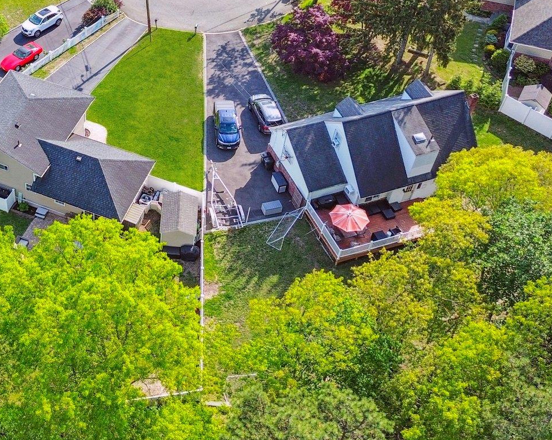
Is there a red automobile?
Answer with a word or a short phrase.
Yes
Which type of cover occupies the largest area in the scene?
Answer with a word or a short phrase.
trees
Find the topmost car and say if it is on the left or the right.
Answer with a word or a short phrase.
left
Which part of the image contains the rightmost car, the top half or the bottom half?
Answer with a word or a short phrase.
top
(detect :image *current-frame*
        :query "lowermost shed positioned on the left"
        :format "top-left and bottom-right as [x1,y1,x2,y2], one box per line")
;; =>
[160,191,197,244]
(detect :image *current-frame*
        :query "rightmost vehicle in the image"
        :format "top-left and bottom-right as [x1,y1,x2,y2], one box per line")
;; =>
[253,92,286,135]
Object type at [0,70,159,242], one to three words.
house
